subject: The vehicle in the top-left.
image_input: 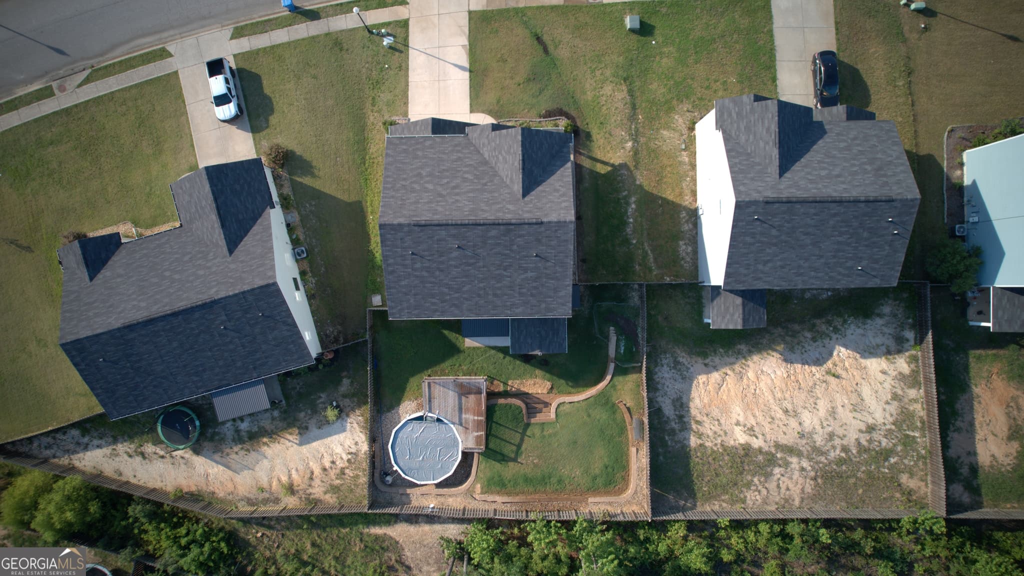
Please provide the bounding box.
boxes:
[205,57,244,127]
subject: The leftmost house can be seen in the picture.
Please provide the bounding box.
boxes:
[55,159,322,420]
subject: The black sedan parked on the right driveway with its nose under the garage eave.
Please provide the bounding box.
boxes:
[810,48,843,110]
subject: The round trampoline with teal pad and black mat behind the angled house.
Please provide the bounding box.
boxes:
[144,402,205,456]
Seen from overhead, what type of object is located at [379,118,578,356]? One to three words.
house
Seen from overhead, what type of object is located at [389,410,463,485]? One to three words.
swimming pool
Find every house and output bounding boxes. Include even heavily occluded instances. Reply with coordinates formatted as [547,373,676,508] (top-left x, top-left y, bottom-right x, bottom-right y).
[379,118,578,356]
[964,132,1024,332]
[697,93,920,329]
[55,159,322,420]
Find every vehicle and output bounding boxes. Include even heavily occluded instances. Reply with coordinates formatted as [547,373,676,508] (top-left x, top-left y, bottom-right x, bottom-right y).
[205,57,244,127]
[810,48,843,110]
